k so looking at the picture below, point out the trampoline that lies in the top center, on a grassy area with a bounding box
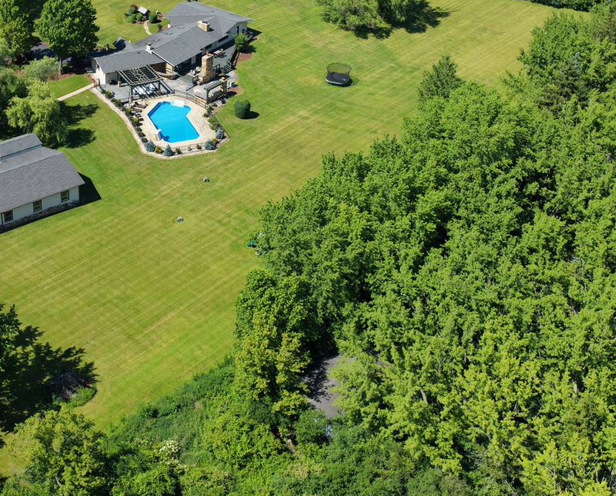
[326,57,353,81]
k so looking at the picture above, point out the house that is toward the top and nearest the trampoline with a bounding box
[85,2,255,84]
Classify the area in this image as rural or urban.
rural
